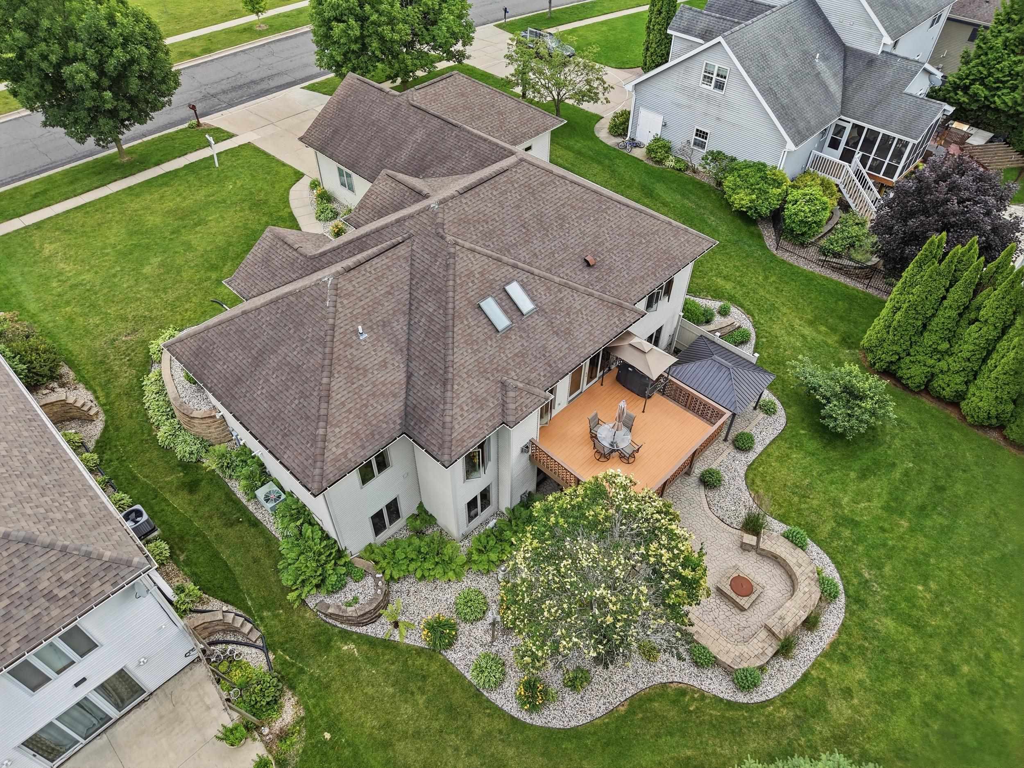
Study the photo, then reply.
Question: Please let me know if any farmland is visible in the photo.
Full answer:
No, no farmland is visible.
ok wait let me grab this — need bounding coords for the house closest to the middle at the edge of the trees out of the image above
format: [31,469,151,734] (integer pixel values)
[158,71,723,563]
